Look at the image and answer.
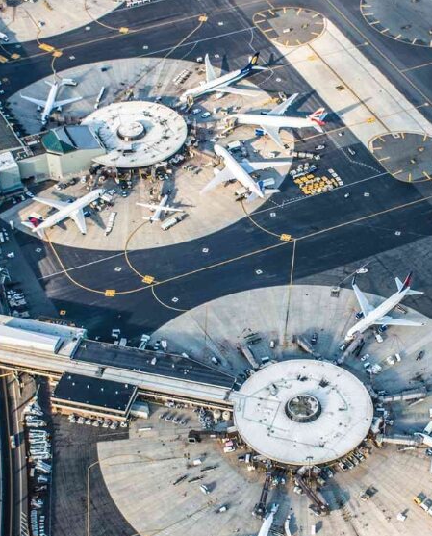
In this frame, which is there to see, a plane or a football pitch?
plane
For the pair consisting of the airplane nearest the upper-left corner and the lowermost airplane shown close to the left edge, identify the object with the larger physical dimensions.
the lowermost airplane shown close to the left edge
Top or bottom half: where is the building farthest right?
bottom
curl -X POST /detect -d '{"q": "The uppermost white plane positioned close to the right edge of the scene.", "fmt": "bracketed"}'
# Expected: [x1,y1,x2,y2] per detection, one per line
[347,272,431,339]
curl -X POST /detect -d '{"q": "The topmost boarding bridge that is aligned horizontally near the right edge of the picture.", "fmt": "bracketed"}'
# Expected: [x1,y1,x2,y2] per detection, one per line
[372,383,429,408]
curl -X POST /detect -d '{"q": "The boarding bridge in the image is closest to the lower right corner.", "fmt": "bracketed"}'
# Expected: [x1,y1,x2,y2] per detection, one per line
[374,433,422,449]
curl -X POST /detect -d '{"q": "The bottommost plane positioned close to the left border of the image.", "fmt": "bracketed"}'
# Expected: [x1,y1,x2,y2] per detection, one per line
[19,188,104,234]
